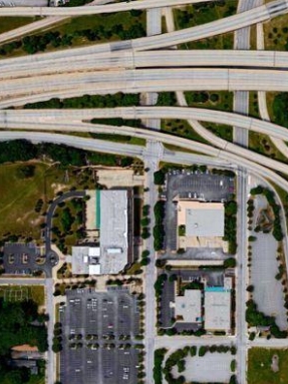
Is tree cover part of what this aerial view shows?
Yes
